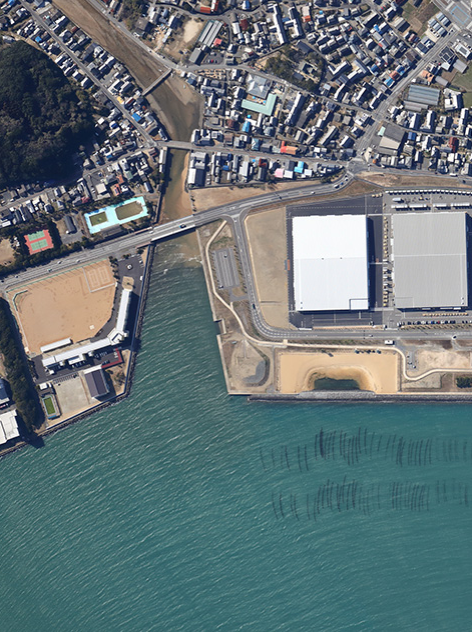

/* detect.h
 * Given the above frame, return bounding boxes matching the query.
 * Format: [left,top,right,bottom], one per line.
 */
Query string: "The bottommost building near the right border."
[389,211,468,312]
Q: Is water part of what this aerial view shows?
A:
Yes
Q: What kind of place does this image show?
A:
residential area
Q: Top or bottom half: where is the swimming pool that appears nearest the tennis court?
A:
top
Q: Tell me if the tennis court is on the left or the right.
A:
left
